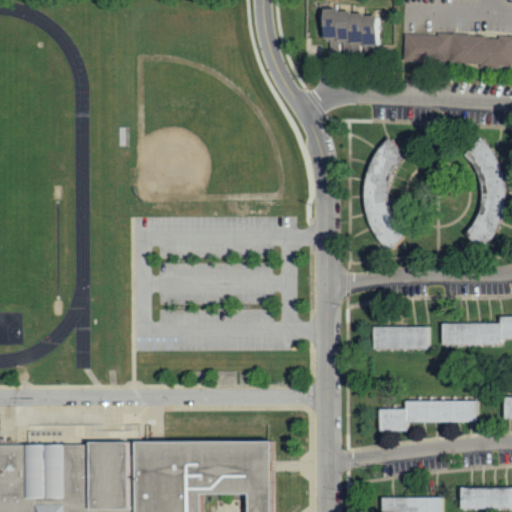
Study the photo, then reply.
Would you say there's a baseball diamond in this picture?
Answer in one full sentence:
Yes, the picture does show a baseball diamond.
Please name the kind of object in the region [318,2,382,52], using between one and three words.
house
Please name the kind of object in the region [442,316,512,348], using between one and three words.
building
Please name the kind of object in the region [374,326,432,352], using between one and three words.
building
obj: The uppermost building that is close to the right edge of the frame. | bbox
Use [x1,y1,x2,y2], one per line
[405,32,512,69]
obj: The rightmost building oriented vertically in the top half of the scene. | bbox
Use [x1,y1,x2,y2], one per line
[468,138,508,244]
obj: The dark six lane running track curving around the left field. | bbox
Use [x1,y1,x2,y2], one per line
[0,4,90,369]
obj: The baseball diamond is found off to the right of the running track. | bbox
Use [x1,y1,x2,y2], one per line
[137,54,284,212]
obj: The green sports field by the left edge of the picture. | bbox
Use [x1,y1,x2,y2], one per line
[0,16,76,356]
